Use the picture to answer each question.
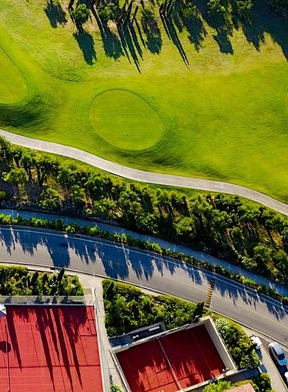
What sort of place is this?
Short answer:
golf course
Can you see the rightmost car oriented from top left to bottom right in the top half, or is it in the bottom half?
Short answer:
bottom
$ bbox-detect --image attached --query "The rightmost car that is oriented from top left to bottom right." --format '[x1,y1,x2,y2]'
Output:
[266,340,288,367]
